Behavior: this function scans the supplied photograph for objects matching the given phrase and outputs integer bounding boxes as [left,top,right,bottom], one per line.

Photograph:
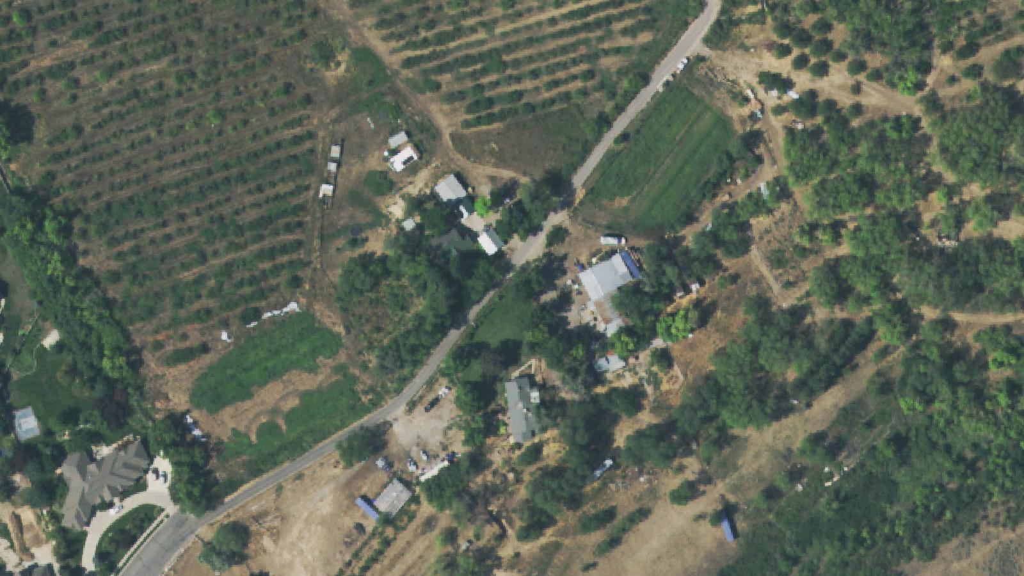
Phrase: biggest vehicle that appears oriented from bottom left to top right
[591,459,615,480]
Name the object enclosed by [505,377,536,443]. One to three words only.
house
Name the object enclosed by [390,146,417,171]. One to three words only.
shed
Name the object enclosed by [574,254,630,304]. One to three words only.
barn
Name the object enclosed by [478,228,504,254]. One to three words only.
building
